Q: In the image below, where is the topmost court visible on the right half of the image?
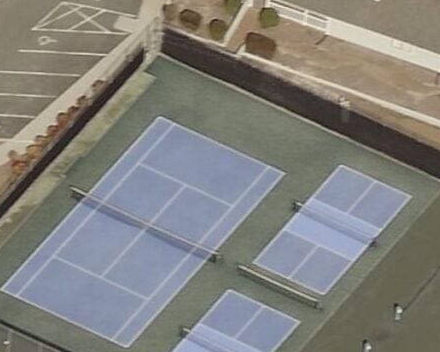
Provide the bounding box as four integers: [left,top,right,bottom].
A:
[254,164,411,294]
